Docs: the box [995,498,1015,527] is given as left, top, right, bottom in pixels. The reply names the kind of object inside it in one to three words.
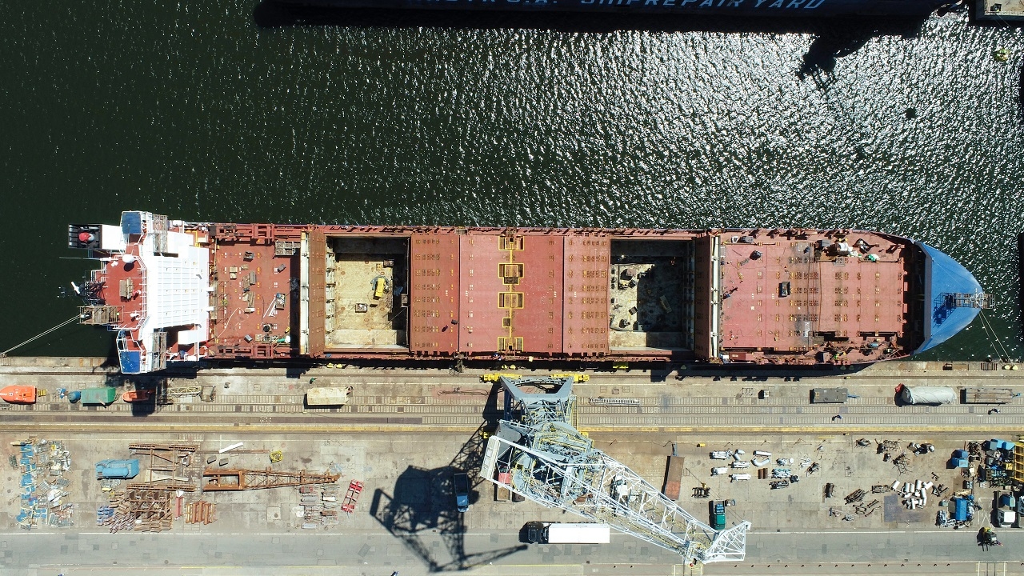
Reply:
vehicle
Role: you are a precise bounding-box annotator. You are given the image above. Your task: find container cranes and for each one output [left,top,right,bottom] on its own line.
[473,374,753,575]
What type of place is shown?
port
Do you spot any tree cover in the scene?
No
